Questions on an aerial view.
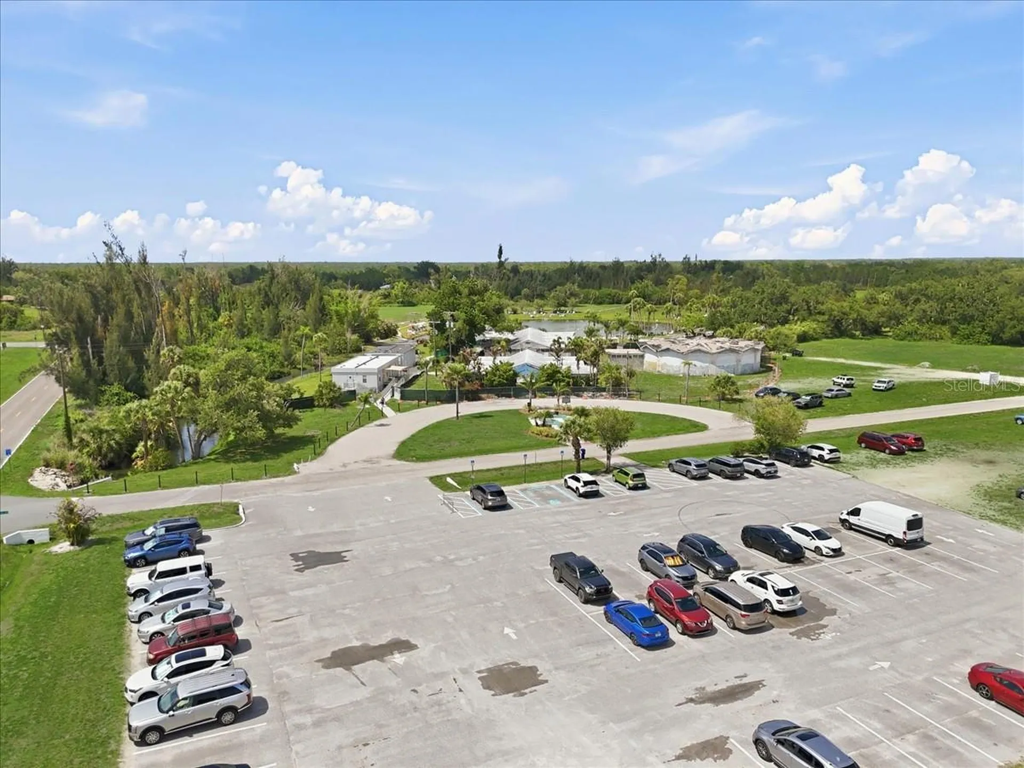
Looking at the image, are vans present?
Yes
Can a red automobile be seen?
Yes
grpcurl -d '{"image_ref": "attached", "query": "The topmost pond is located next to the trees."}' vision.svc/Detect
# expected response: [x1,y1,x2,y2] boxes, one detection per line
[509,320,677,338]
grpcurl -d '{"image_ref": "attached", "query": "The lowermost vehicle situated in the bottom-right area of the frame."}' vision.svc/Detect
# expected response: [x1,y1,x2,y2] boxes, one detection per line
[749,721,861,768]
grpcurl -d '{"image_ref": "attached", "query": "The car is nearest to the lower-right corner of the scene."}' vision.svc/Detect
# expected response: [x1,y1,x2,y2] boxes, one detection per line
[967,662,1024,714]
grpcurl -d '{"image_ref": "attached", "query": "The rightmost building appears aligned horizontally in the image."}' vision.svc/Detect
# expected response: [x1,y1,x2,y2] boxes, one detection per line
[631,327,767,375]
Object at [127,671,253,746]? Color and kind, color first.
gray car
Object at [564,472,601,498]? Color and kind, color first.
white car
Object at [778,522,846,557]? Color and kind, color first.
white car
